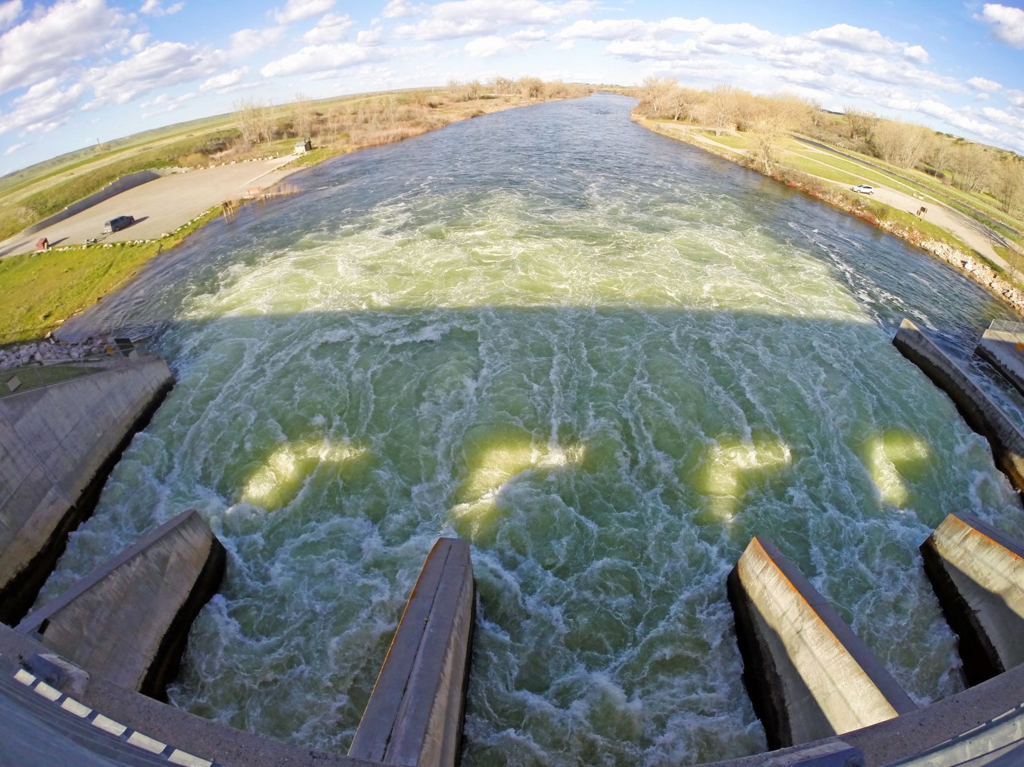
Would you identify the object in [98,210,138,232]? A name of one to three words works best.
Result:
truck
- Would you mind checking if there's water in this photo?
Yes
